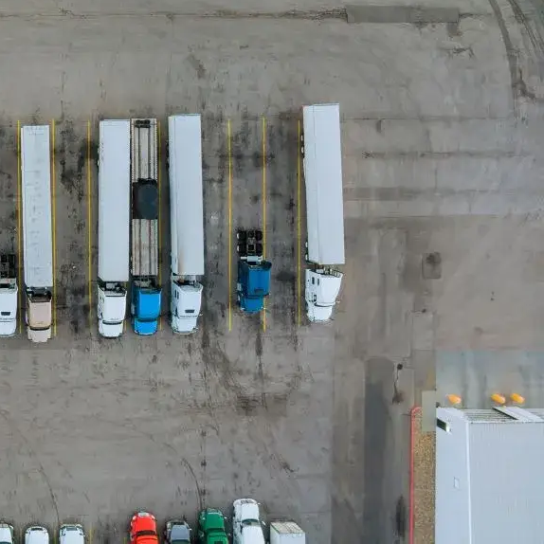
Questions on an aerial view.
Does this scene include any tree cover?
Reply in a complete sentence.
No, there is no tree cover in the image.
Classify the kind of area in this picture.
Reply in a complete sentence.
This image shows a parking lot.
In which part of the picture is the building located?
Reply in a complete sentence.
The building appears toward the bottom right of the photo.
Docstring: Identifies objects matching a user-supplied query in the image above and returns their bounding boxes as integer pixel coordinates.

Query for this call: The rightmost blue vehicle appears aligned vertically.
[237,232,271,313]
